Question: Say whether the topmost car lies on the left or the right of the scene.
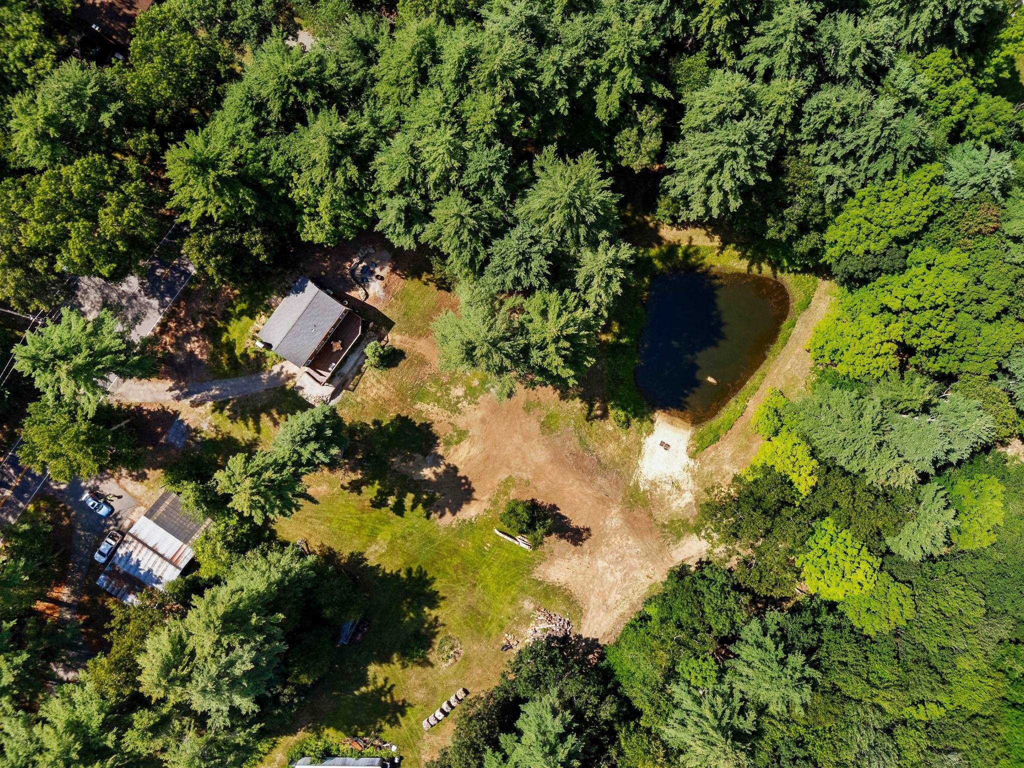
left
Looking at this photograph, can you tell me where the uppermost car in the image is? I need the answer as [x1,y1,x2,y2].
[85,493,114,516]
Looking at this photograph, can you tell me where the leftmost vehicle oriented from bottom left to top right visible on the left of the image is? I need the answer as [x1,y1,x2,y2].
[96,528,124,561]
